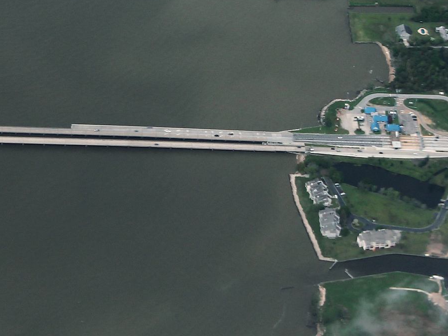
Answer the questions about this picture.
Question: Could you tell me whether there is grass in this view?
Yes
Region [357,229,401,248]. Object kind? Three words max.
building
